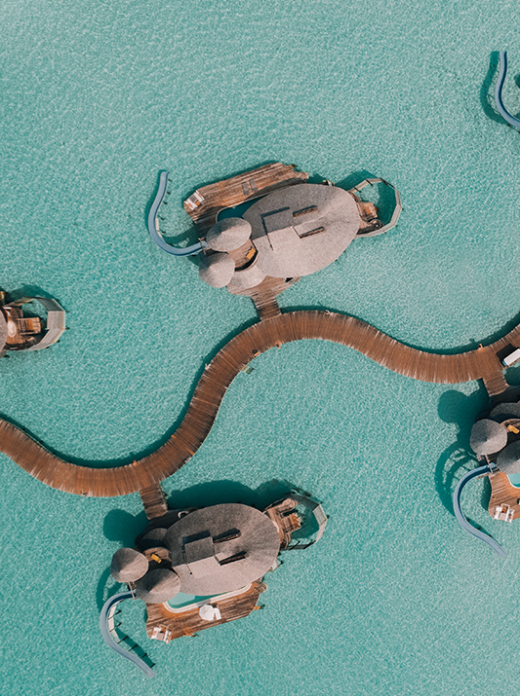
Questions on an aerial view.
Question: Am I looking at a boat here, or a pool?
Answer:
pool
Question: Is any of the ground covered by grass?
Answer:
No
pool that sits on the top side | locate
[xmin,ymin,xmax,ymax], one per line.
[214,195,265,223]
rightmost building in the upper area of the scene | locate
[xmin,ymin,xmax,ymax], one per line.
[178,165,385,323]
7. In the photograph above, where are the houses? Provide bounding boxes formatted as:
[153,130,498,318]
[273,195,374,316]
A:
[471,366,520,521]
[0,301,46,363]
[178,165,385,323]
[109,485,311,643]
